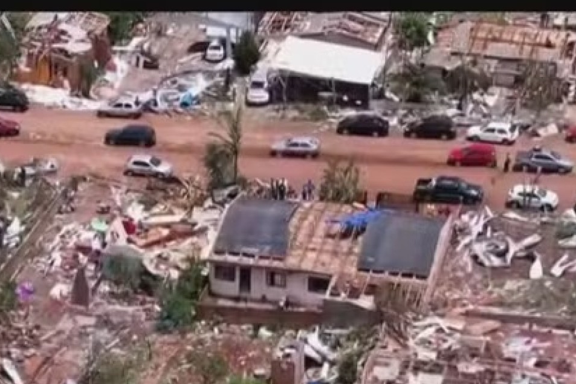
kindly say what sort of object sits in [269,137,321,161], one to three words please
car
